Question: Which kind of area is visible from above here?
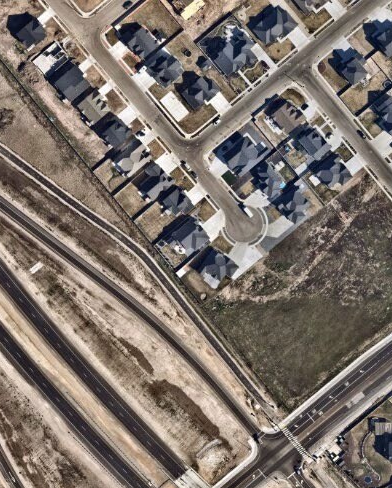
residential area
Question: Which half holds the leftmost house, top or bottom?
top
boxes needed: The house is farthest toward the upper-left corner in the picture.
[11,14,43,49]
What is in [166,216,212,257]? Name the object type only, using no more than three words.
house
